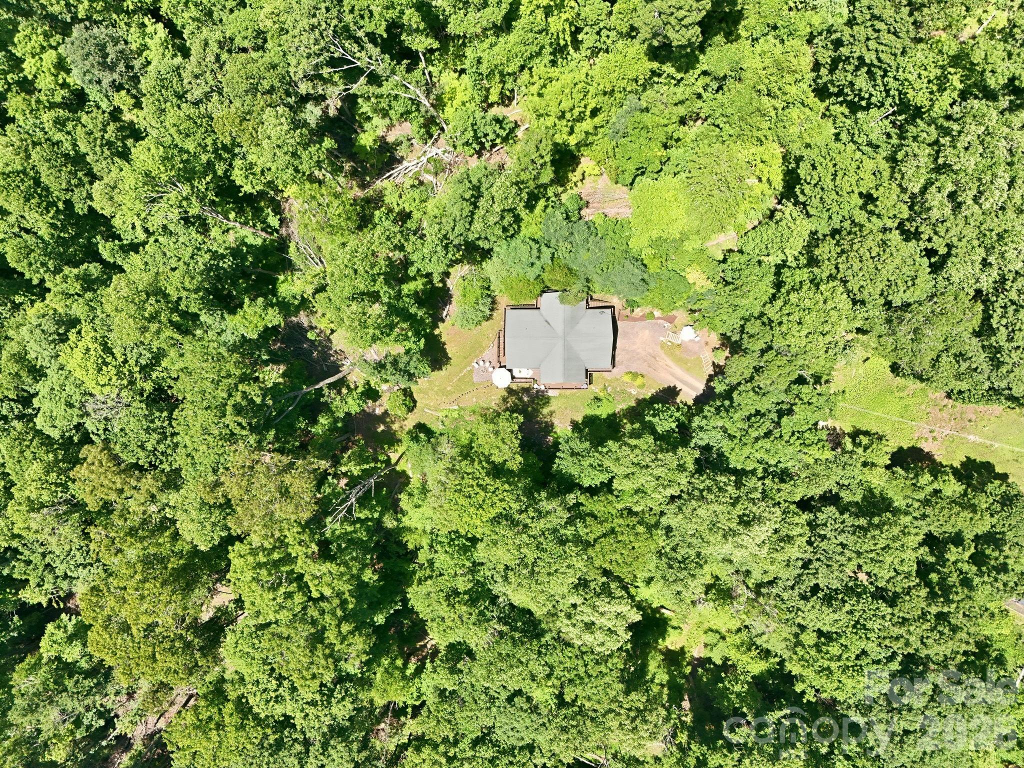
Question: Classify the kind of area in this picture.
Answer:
forest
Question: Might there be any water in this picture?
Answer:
No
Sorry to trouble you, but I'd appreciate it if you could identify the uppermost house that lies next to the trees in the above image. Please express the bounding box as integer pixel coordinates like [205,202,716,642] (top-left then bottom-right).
[498,291,613,390]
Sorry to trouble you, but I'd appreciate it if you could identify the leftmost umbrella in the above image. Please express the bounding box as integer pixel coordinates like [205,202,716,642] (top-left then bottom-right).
[492,368,512,388]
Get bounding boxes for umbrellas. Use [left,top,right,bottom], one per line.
[492,368,512,388]
[680,326,696,342]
